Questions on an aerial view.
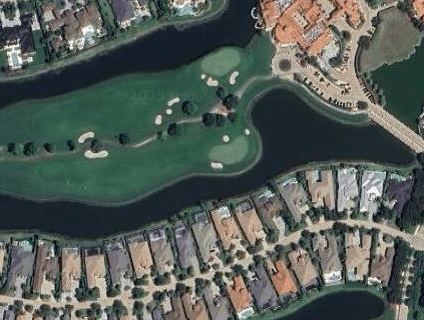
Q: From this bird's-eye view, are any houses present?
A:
Yes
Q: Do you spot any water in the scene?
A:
Yes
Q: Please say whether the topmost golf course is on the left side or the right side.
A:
left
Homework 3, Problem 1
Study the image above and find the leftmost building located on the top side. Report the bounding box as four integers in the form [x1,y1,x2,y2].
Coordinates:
[0,12,36,68]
